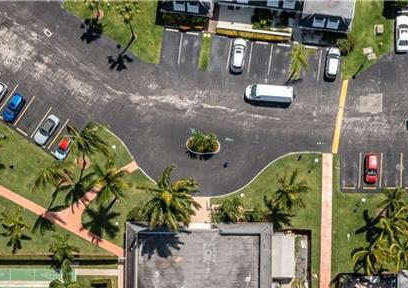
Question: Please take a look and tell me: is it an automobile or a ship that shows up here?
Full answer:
Looking from above, you can make out an automobile.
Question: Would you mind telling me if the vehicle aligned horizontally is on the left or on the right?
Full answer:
You can find the vehicle aligned horizontally on the right side of the picture.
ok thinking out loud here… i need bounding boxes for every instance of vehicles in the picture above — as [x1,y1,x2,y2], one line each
[34,113,60,147]
[52,136,71,161]
[365,154,380,185]
[229,37,245,75]
[324,48,341,83]
[1,91,26,124]
[244,83,295,104]
[394,15,408,53]
[0,81,9,102]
